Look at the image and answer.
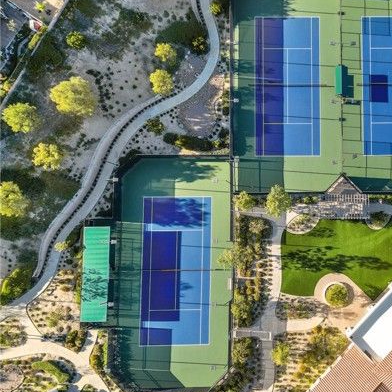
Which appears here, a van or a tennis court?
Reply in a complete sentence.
The one in the frame is a tennis court.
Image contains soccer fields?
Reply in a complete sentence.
No, no soccer field can be seen from above.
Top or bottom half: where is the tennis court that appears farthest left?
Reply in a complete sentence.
The bottom half of the photo is where the tennis court that appears farthest left is.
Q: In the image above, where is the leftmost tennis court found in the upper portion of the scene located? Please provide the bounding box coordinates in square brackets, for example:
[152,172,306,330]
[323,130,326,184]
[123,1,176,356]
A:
[234,0,343,191]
